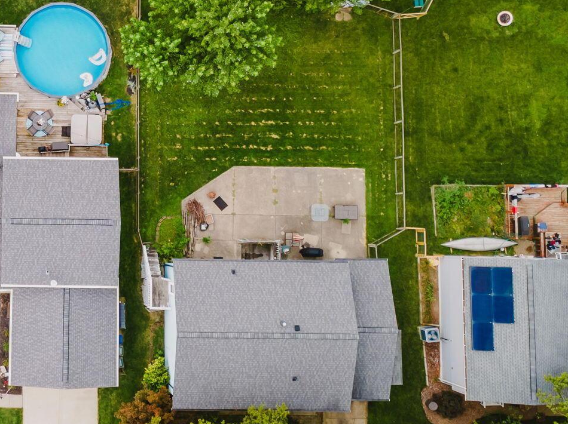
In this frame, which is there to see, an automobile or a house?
house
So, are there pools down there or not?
Yes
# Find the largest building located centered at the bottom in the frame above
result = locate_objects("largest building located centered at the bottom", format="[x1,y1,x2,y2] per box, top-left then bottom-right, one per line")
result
[164,257,403,413]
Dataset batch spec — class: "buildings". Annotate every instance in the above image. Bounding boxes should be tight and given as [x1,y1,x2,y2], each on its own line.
[440,251,568,408]
[0,92,121,389]
[164,257,403,413]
